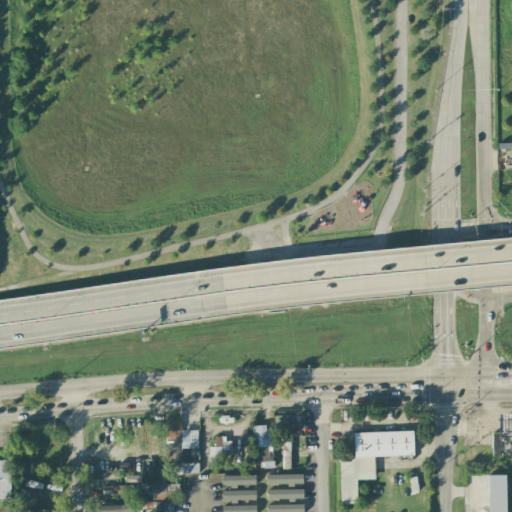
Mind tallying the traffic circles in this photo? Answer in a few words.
0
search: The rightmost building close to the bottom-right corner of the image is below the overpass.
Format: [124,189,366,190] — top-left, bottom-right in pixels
[470,474,508,512]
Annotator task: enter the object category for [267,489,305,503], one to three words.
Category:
building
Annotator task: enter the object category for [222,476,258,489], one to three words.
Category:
building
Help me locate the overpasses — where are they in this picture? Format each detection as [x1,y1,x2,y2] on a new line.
[0,237,512,348]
